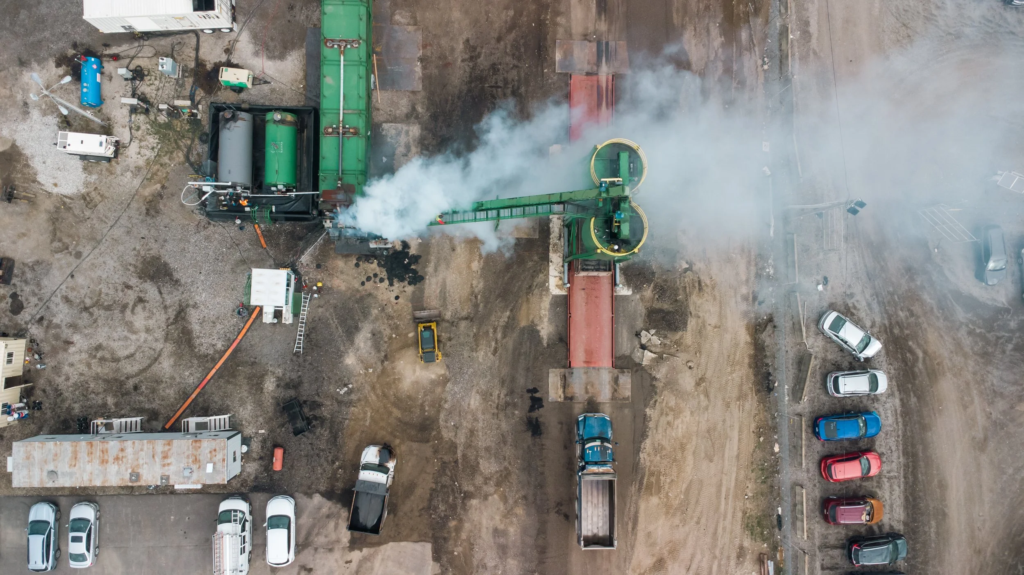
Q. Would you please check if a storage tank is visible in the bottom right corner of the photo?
No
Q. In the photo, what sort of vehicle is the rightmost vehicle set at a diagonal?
car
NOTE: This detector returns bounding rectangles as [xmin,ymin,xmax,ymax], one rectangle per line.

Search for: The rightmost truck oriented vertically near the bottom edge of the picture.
[572,409,617,553]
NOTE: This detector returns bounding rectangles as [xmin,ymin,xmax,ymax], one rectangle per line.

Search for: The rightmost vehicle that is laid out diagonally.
[813,307,884,361]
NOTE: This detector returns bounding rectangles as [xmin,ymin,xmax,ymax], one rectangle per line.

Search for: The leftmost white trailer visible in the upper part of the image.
[56,132,122,163]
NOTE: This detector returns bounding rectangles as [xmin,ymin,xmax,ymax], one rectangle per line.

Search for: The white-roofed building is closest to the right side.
[249,266,311,327]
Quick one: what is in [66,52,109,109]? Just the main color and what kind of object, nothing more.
blue storage tank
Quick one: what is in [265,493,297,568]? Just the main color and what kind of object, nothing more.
white car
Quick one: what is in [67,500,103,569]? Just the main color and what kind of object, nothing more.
white car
